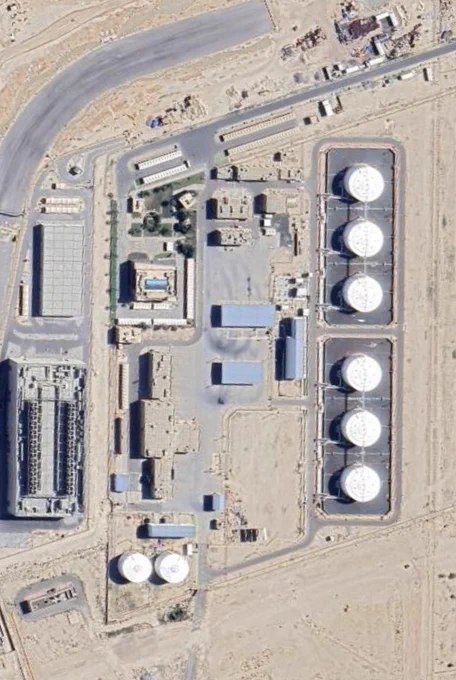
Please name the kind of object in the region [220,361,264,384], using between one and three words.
shed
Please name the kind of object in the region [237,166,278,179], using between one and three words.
building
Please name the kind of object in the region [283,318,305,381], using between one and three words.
building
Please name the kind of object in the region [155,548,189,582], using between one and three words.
storage tank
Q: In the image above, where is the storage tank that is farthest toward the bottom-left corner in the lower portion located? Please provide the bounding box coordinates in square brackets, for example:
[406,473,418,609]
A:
[118,548,153,582]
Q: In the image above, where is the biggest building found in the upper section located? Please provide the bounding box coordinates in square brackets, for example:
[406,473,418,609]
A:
[40,224,84,316]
